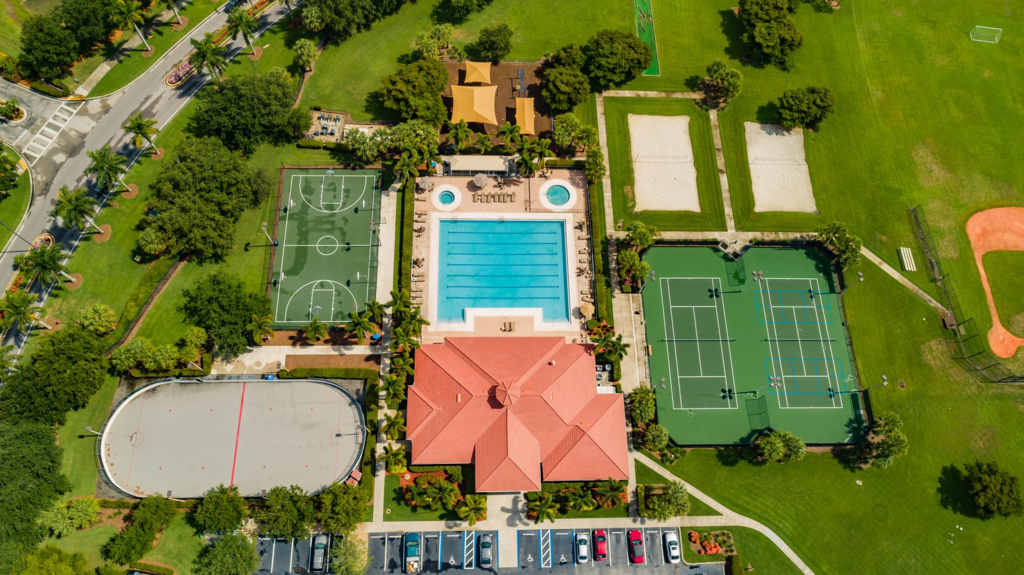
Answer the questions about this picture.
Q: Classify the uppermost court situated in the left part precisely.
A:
basketball court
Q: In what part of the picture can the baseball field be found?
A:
right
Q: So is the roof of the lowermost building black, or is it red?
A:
red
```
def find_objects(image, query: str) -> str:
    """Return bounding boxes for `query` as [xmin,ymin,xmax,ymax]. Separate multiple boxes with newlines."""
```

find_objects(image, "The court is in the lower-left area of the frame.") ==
[98,377,363,499]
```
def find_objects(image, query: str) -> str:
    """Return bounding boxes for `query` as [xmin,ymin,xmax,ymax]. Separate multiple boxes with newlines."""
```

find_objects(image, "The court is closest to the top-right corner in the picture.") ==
[745,121,817,214]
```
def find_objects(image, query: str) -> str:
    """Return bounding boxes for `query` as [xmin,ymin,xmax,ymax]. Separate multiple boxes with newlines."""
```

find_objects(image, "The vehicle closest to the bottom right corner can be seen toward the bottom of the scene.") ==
[664,532,680,566]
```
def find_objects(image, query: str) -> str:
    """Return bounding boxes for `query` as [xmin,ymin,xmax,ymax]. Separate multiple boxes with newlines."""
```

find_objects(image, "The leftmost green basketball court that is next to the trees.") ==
[271,168,382,330]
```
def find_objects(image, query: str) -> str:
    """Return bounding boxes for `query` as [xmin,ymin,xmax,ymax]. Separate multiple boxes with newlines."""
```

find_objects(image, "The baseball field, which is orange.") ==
[967,206,1024,358]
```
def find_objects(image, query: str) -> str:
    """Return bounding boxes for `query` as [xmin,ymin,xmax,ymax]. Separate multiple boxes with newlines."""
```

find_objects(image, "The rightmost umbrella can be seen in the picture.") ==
[580,300,596,316]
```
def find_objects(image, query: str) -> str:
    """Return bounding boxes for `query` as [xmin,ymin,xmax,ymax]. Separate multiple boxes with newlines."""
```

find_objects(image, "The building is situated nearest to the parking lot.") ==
[406,336,630,492]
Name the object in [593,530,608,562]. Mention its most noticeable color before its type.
red car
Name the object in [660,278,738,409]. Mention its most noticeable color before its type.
green tennis court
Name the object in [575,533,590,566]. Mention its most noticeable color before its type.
white car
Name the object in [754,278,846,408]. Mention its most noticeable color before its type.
green tennis court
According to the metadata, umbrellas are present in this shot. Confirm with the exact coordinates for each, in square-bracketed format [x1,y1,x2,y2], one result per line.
[580,300,596,316]
[416,172,432,186]
[473,171,489,185]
